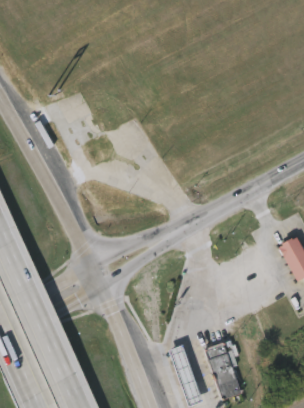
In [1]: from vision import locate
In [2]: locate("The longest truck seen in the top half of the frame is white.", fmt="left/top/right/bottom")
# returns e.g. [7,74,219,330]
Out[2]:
[29,114,51,148]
